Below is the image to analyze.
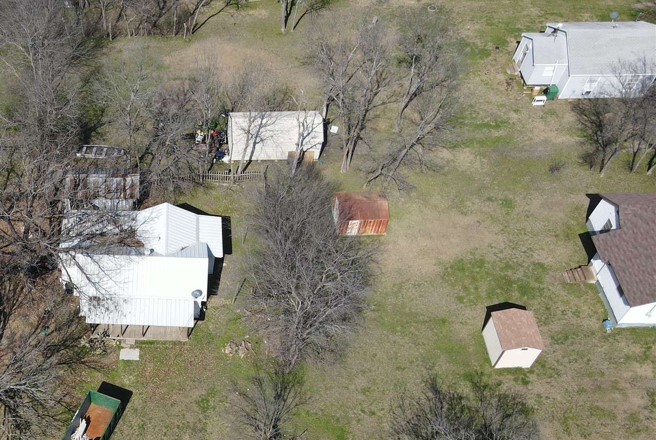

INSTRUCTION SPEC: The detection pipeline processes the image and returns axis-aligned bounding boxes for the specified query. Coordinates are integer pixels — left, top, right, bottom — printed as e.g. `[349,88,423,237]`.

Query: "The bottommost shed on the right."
[477,307,548,369]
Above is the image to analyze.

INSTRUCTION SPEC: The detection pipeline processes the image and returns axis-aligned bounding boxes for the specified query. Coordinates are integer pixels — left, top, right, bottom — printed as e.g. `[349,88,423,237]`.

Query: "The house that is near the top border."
[505,3,656,97]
